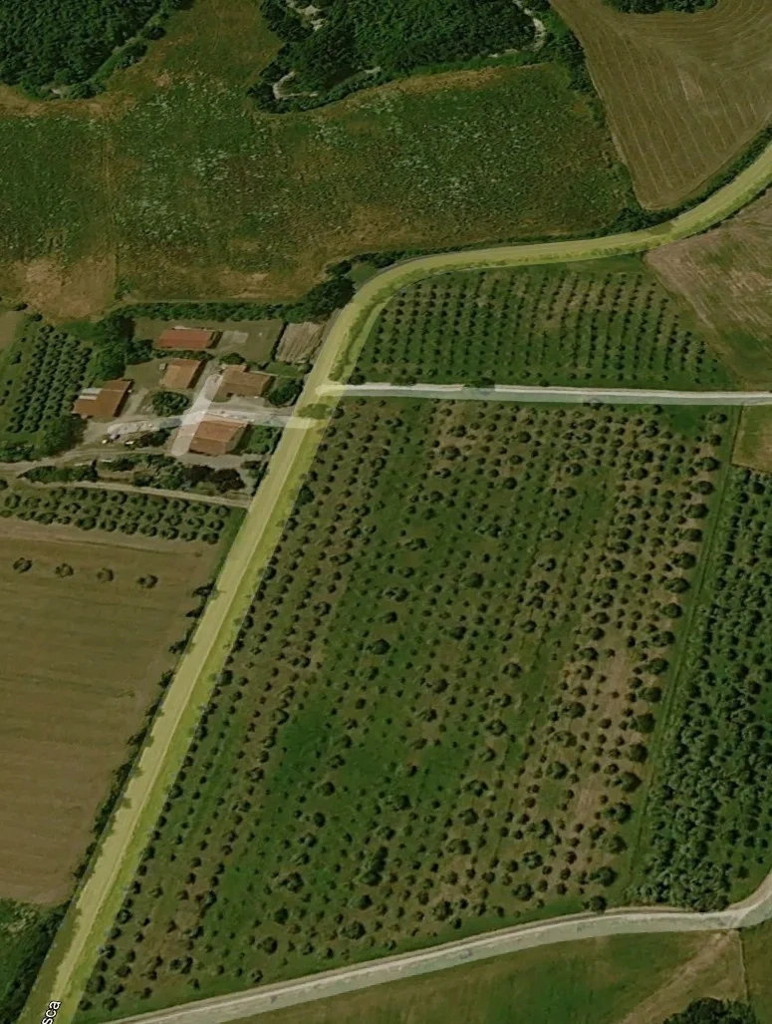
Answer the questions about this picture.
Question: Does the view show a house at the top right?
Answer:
No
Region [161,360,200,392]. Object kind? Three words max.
house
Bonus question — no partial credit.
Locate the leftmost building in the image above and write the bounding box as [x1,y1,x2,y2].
[76,379,132,420]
